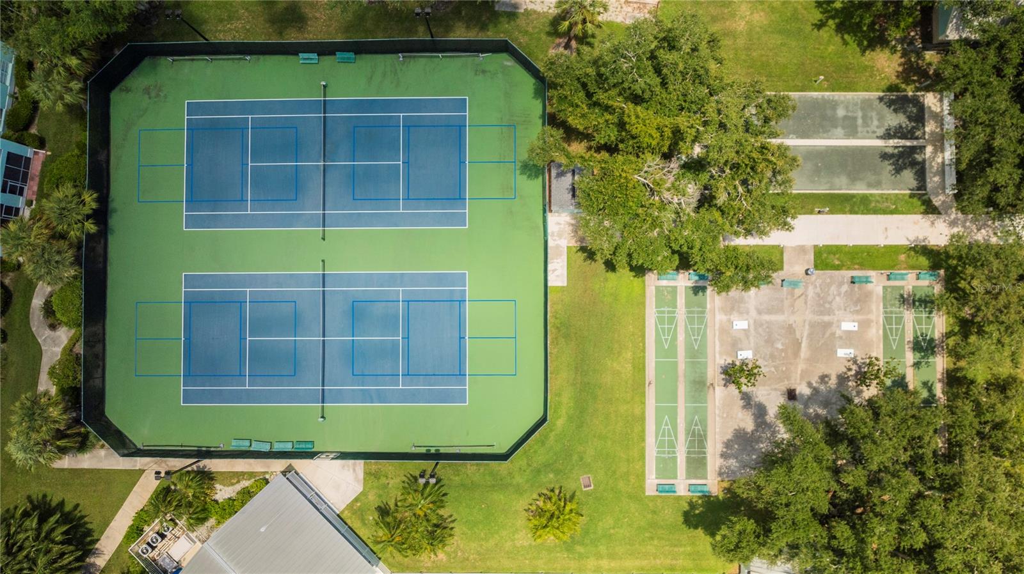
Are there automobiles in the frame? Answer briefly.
No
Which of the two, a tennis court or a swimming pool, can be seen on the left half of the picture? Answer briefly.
tennis court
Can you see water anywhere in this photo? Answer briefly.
No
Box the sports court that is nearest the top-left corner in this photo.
[138,127,298,202]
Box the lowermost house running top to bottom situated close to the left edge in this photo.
[0,138,34,220]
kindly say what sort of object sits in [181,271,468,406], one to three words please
tennis court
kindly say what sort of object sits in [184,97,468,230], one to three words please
tennis court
